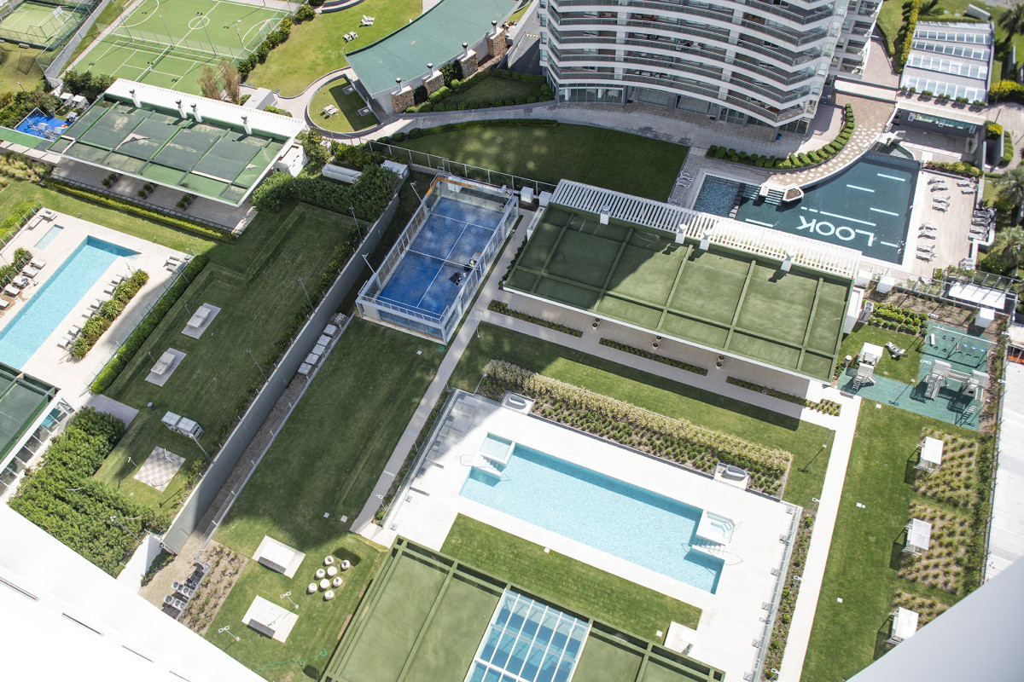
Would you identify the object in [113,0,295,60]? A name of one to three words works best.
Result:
sports court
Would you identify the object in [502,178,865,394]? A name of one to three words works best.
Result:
building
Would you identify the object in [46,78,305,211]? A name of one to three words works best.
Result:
building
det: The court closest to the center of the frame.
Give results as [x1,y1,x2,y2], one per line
[355,172,519,345]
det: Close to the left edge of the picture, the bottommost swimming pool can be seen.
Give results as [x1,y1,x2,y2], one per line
[0,237,139,369]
